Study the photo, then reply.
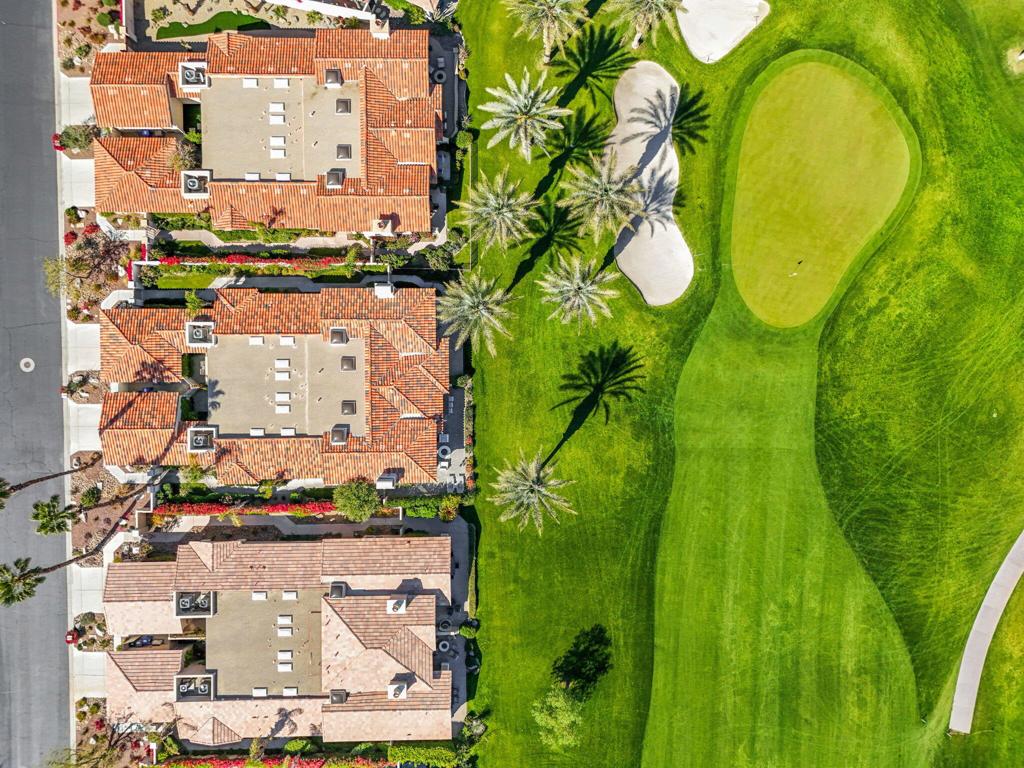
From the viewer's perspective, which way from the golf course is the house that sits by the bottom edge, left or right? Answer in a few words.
left of it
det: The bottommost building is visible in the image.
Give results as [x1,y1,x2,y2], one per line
[102,536,452,745]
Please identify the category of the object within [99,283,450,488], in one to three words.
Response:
house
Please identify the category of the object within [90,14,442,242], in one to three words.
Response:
house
